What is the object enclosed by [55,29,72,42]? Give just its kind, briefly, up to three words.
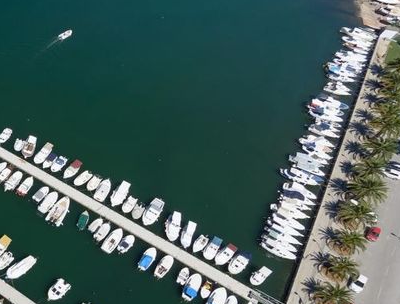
boat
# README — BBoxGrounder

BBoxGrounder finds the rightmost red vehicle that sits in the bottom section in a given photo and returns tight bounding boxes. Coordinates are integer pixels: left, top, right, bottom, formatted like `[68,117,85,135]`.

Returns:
[366,224,380,242]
